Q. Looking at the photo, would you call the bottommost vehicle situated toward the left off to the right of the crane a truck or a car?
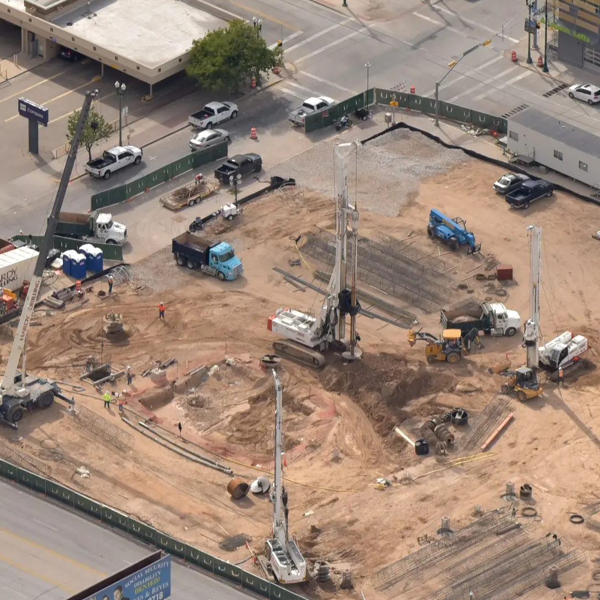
truck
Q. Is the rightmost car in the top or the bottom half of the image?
top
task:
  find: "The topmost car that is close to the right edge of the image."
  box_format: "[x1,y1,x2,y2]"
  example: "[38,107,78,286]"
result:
[565,81,600,105]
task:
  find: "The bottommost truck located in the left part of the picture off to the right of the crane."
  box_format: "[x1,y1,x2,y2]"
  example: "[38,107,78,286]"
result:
[170,225,243,279]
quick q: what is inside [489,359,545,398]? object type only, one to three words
work vehicle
